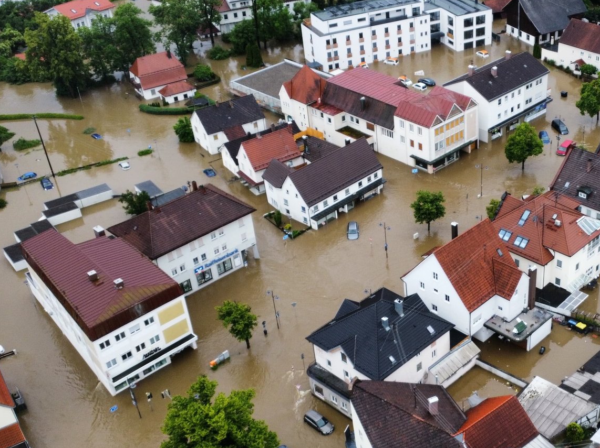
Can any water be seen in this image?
Yes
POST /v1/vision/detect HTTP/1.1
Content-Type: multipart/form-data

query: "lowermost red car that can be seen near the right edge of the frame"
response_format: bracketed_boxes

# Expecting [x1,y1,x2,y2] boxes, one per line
[557,141,574,155]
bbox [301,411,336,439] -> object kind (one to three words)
car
